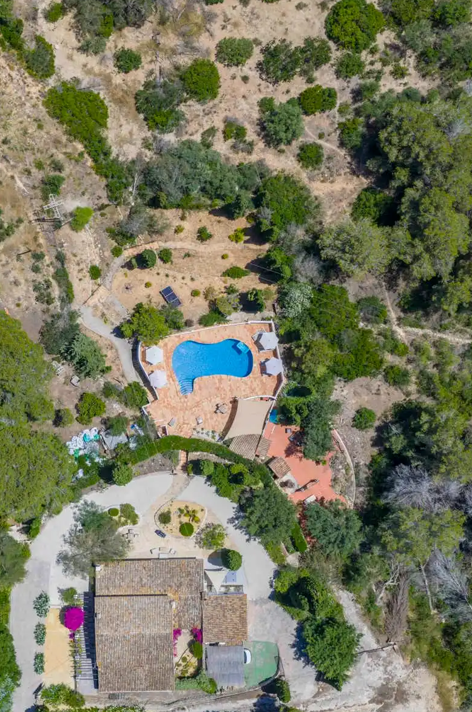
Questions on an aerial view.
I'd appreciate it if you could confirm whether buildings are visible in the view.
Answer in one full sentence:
Yes, a building can be made out from above.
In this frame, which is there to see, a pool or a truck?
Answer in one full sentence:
Of the two, only a pool appears.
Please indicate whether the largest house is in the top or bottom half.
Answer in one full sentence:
The largest house is in the bottom half of the image.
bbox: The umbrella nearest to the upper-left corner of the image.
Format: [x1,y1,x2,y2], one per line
[144,346,163,364]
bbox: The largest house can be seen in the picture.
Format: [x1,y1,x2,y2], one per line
[94,556,206,693]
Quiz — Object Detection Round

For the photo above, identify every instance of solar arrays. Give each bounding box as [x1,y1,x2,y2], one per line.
[159,285,183,308]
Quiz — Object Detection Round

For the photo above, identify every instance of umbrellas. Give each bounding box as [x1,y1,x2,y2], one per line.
[263,358,282,374]
[149,371,167,389]
[144,346,163,364]
[257,331,276,350]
